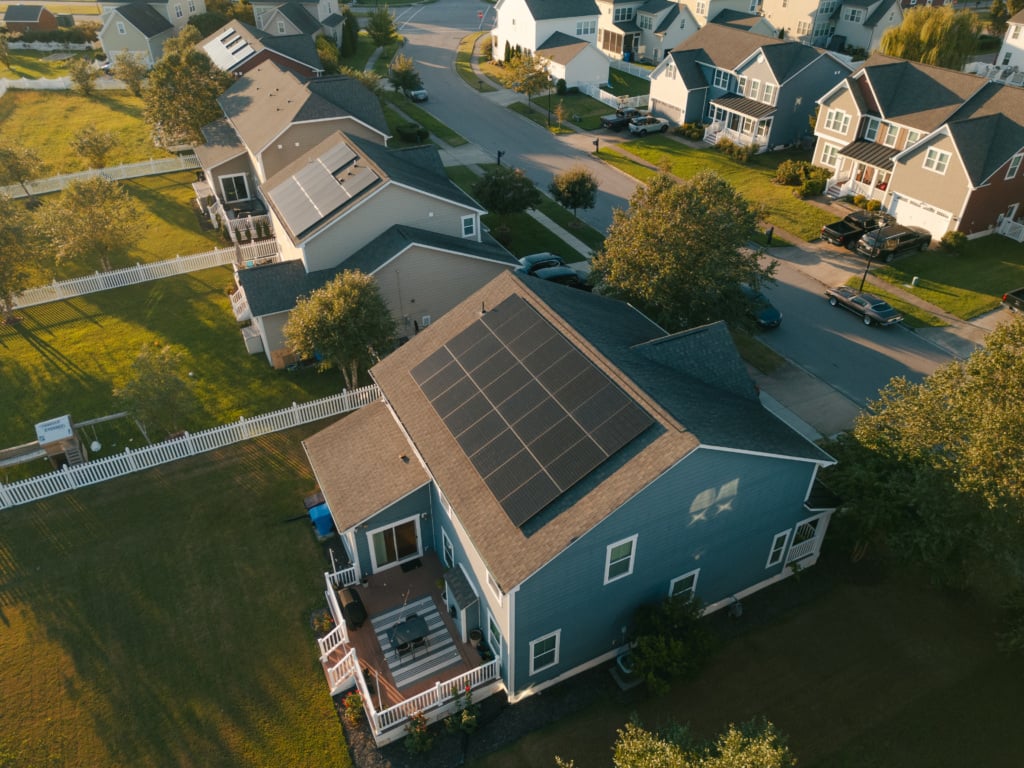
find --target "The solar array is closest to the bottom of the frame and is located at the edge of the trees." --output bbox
[413,294,654,524]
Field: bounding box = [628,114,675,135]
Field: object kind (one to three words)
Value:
car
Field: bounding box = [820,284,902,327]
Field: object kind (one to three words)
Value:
car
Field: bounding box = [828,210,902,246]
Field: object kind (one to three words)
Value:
truck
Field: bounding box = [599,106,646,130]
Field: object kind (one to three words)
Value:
truck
